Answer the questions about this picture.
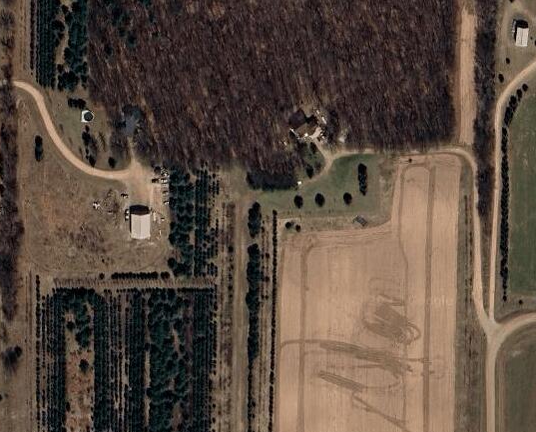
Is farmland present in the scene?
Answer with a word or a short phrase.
Yes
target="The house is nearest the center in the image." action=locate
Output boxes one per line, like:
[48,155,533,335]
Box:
[287,109,320,136]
